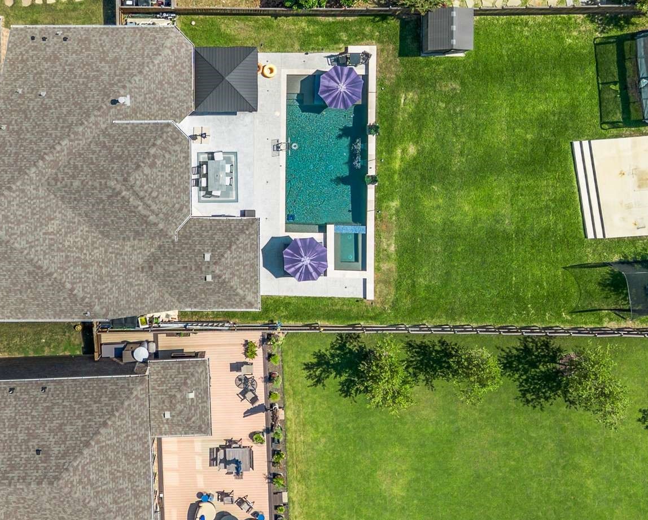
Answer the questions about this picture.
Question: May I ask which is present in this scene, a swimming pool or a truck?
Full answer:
Looking from above, you can make out a swimming pool.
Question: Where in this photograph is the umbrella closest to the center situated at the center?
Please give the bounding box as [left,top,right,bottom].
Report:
[282,236,327,282]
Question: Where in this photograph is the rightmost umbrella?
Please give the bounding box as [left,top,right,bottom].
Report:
[317,65,364,111]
